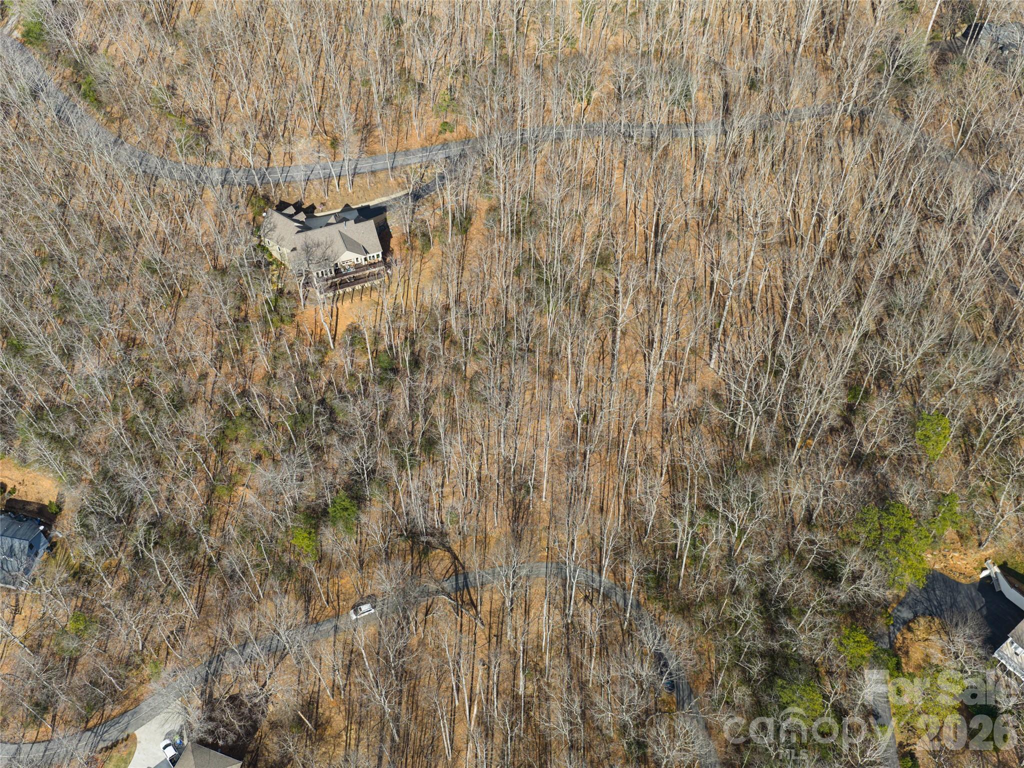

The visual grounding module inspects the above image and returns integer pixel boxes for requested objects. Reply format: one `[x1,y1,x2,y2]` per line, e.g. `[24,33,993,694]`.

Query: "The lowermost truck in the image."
[158,737,180,768]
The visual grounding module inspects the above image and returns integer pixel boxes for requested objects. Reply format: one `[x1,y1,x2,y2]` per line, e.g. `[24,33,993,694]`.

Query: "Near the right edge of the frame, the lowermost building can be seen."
[970,617,1024,707]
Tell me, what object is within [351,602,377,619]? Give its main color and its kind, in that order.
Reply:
white car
